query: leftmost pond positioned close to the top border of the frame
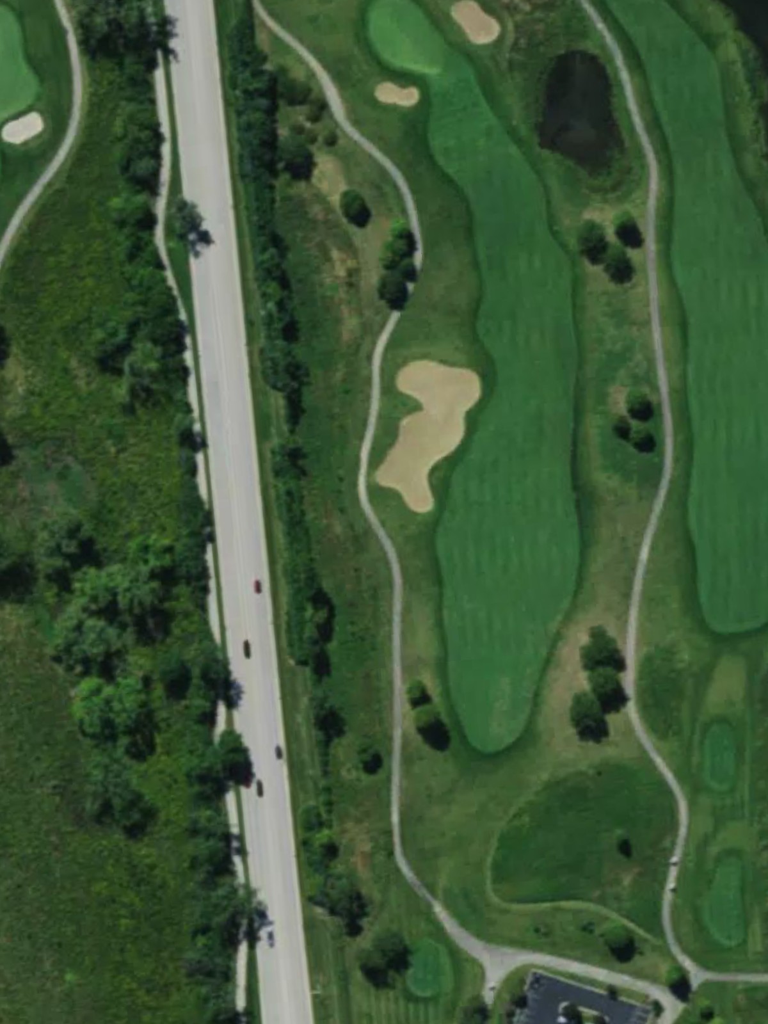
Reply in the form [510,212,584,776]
[540,50,624,177]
